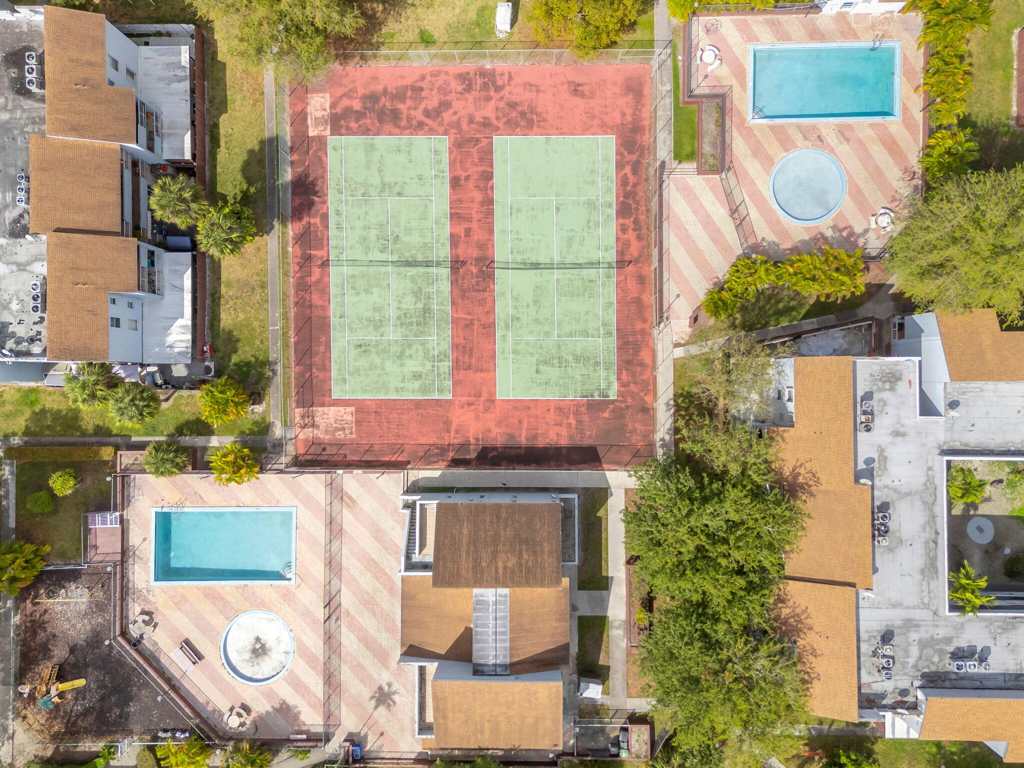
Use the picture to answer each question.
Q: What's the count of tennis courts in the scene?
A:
1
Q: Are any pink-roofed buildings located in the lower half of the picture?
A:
No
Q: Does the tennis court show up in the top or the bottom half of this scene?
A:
top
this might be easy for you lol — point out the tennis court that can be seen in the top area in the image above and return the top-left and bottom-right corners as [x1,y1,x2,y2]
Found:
[288,64,653,468]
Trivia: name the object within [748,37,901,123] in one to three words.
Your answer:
swimming pool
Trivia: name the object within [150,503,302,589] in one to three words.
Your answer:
swimming pool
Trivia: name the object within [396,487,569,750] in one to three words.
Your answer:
building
